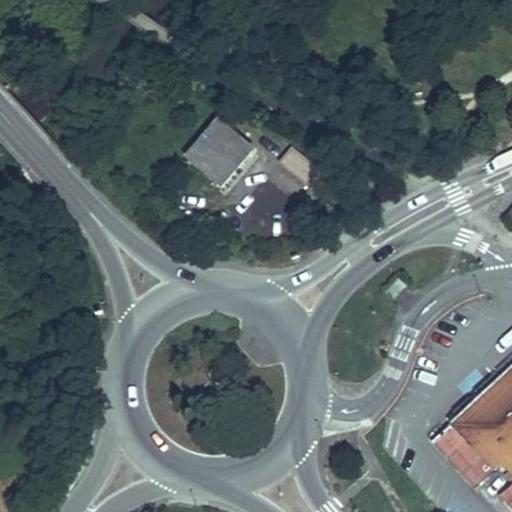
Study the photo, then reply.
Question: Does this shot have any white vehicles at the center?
Yes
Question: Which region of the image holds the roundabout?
bottom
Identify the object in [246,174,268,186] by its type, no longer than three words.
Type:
vehicle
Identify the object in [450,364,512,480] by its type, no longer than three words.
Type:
building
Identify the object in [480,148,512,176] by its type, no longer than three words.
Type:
bus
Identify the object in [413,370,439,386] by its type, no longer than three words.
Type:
vehicle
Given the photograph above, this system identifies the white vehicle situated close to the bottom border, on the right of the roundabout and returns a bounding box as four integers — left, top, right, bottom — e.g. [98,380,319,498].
[487,477,508,496]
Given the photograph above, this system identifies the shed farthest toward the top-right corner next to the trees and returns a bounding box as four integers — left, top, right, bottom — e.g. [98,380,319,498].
[280,146,312,190]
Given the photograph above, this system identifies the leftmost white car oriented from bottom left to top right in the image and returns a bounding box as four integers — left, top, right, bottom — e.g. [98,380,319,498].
[236,196,256,214]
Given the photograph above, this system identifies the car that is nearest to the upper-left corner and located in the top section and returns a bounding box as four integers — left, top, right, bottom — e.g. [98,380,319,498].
[183,196,206,208]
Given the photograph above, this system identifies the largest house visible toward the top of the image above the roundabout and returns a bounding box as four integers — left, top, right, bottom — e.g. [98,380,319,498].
[184,117,258,194]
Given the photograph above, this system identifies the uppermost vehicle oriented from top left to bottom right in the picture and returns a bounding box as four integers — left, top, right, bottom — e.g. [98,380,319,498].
[260,136,280,156]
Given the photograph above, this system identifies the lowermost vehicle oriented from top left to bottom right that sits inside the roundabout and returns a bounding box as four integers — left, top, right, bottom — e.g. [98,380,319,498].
[150,432,170,452]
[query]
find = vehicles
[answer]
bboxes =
[228,213,244,232]
[487,477,508,496]
[413,370,439,386]
[430,332,452,348]
[236,196,256,214]
[183,196,206,208]
[128,386,138,408]
[246,174,268,186]
[260,136,280,156]
[372,245,394,263]
[408,194,429,210]
[292,270,314,286]
[150,432,170,452]
[480,148,512,176]
[418,358,440,372]
[450,311,471,327]
[437,320,459,336]
[400,448,416,470]
[272,216,283,236]
[176,268,198,282]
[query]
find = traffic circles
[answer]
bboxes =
[104,272,329,498]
